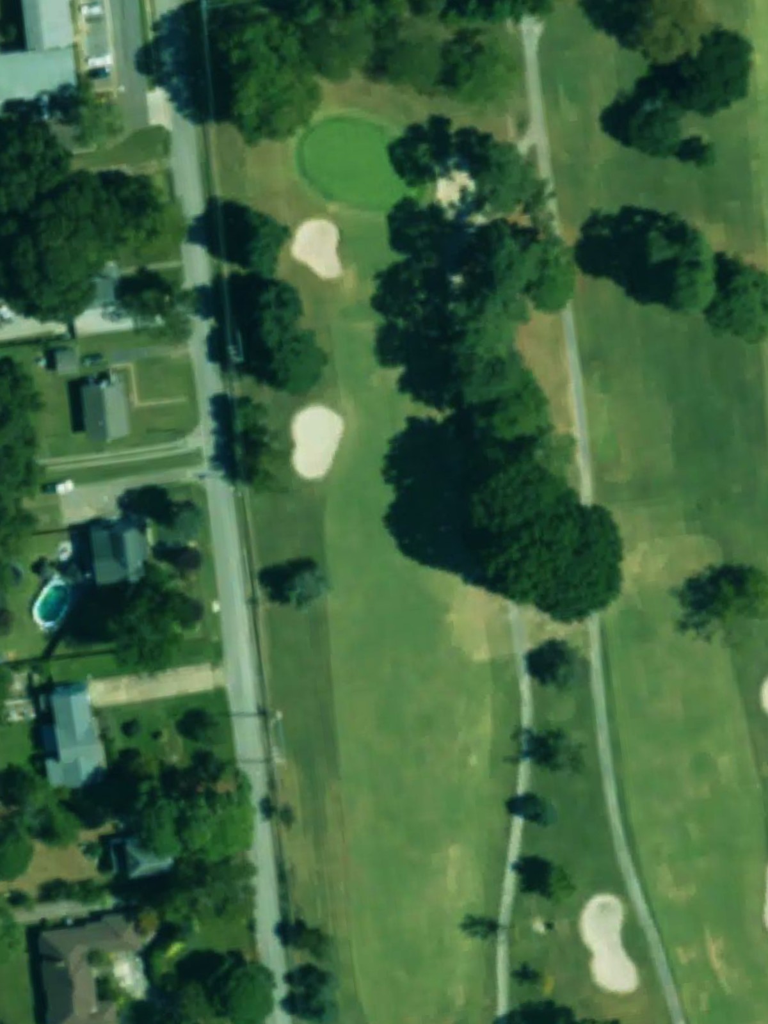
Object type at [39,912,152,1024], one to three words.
house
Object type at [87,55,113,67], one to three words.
vehicle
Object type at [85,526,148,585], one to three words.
house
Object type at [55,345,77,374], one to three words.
shed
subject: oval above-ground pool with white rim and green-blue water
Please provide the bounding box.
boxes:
[31,571,72,632]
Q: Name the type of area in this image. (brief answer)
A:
golf course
